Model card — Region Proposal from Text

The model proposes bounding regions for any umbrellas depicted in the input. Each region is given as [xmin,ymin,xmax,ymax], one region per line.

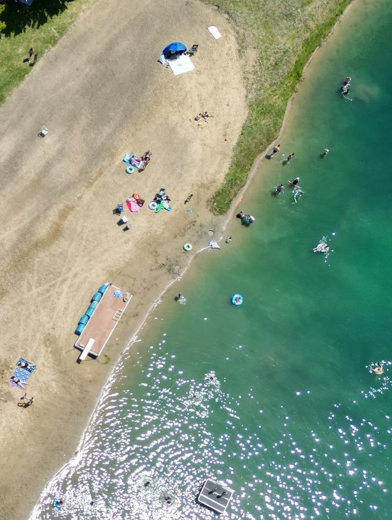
[164,37,190,53]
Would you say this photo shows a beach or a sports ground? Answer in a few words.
beach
